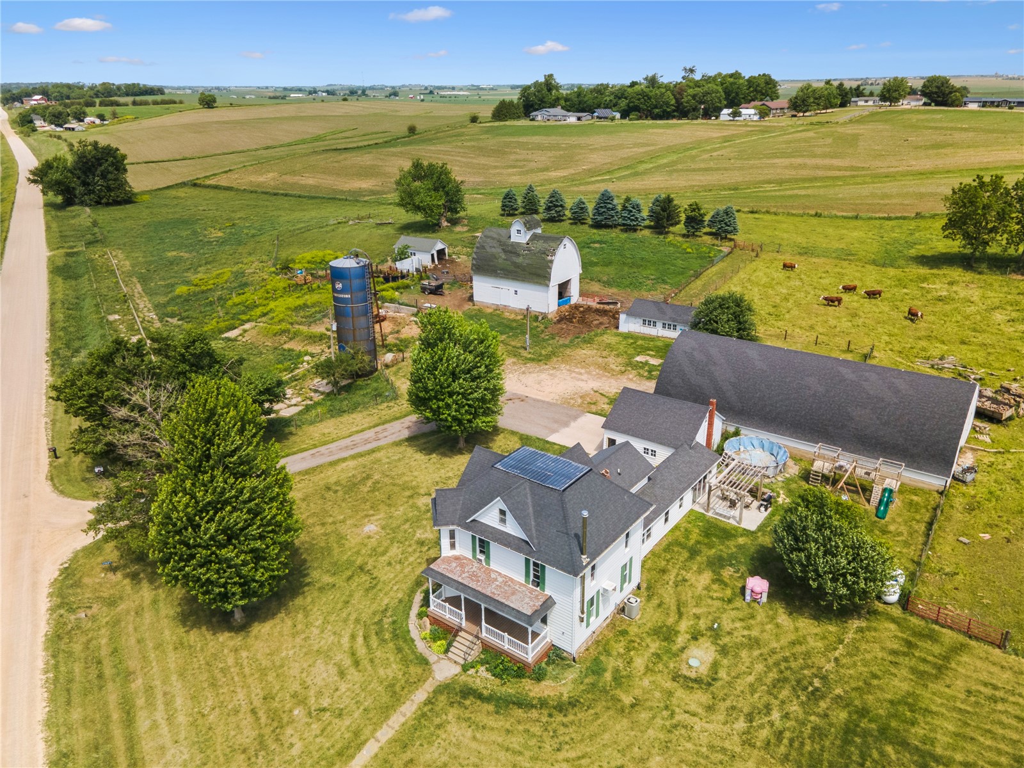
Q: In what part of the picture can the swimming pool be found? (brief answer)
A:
right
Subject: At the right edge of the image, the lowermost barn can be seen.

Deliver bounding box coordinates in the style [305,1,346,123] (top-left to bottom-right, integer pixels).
[654,323,985,492]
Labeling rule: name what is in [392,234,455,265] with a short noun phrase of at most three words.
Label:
shed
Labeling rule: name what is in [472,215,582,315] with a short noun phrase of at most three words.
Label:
barn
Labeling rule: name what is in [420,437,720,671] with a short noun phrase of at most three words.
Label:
house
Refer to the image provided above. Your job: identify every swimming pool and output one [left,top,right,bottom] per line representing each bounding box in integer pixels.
[719,437,791,482]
